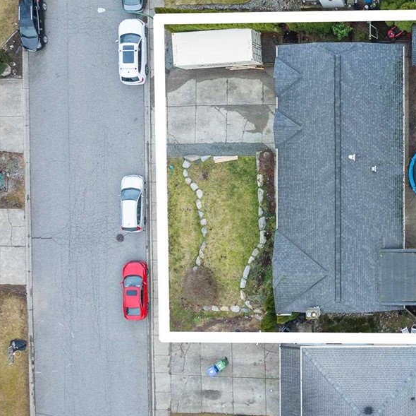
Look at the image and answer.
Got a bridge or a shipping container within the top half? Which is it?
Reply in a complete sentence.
Visible within the top half is a shipping container.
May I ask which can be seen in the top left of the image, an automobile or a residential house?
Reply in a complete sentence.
What appears in the top left of the image is an automobile.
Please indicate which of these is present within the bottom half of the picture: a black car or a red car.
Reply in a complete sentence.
It is a red car that can be seen within the bottom half of the picture.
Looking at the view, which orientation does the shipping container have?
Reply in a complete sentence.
The shipping container runs from side to side in the image.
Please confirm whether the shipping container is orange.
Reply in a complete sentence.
No, from above the shipping container looks white.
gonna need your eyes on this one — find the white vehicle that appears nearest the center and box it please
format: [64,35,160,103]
[117,175,148,232]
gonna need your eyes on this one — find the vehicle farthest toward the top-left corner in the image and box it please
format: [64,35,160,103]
[15,0,50,53]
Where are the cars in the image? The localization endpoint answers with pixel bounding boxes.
[117,175,148,232]
[121,0,149,14]
[116,21,149,85]
[120,262,151,319]
[15,0,50,53]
